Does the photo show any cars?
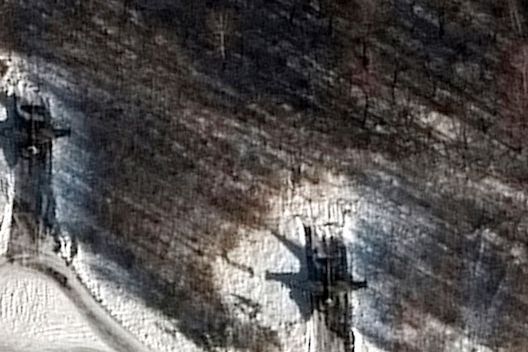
No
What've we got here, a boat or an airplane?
airplane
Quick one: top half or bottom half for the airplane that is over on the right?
bottom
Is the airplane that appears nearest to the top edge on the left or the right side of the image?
left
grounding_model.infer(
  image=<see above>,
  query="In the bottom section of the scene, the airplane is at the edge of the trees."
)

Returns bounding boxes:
[287,249,368,320]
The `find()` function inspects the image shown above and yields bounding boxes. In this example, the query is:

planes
[287,249,368,320]
[0,96,74,170]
